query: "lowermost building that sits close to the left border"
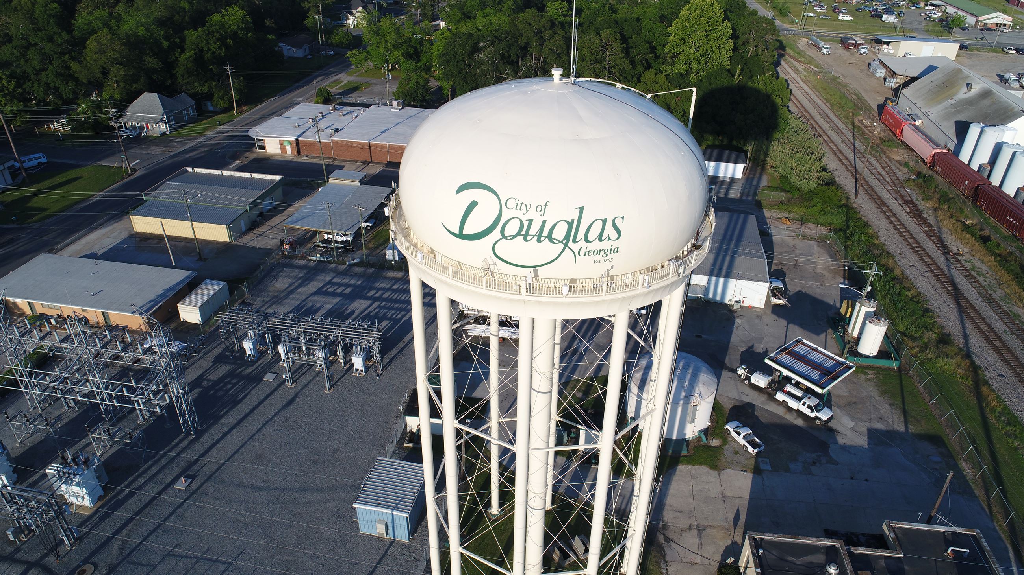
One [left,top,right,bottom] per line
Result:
[0,252,199,328]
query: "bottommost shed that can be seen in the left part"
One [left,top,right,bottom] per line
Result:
[351,448,435,544]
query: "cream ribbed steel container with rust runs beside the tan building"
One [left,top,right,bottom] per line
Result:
[176,278,230,324]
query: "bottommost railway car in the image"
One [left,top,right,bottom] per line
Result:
[974,182,1024,237]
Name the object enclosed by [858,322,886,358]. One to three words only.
storage tank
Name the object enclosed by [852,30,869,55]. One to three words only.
vehicle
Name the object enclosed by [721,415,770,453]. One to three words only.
truck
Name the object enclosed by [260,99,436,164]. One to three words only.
building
